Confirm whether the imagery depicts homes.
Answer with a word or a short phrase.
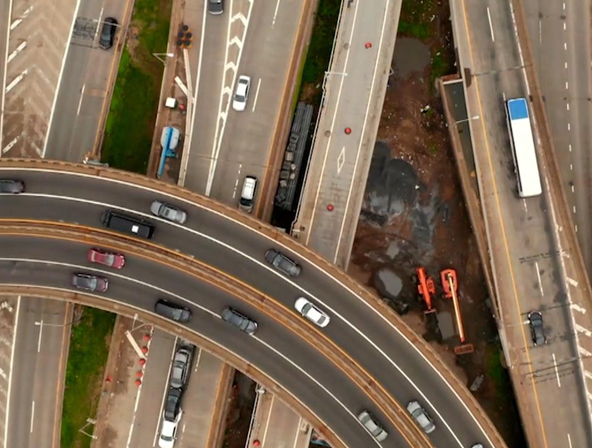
No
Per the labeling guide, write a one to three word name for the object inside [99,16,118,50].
car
